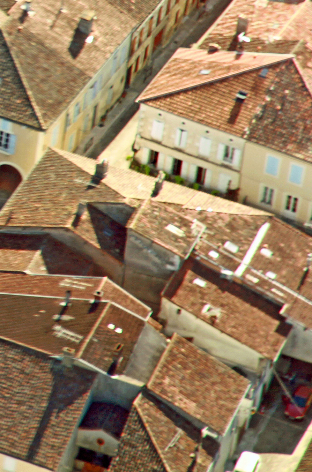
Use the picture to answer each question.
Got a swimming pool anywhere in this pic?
No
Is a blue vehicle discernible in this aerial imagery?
No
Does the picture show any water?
No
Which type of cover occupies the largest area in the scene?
buildings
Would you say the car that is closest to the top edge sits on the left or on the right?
right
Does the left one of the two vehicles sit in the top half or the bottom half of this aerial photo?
bottom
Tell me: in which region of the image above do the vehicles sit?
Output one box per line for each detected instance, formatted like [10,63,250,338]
[283,379,312,421]
[233,444,263,472]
